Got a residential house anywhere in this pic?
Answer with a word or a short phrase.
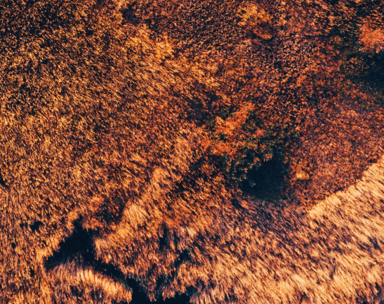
No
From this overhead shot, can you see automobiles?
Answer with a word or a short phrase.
No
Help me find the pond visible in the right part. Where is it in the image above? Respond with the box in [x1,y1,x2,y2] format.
[238,144,290,201]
